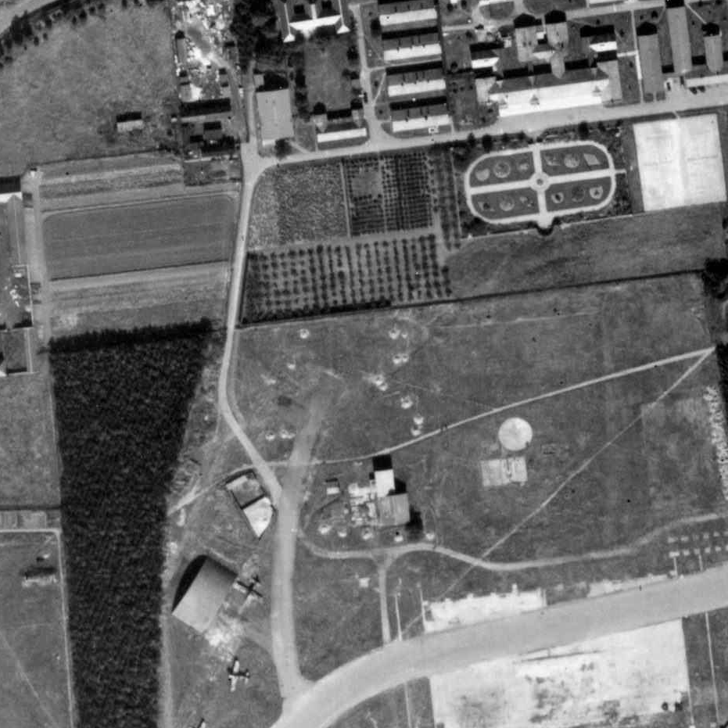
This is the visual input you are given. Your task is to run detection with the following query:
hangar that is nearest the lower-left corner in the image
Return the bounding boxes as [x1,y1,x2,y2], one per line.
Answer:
[172,559,236,633]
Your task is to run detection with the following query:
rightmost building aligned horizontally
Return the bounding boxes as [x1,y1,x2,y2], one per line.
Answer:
[660,67,728,89]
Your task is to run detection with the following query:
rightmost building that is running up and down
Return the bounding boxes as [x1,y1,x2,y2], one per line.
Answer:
[705,35,726,73]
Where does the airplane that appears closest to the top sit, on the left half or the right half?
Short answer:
left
